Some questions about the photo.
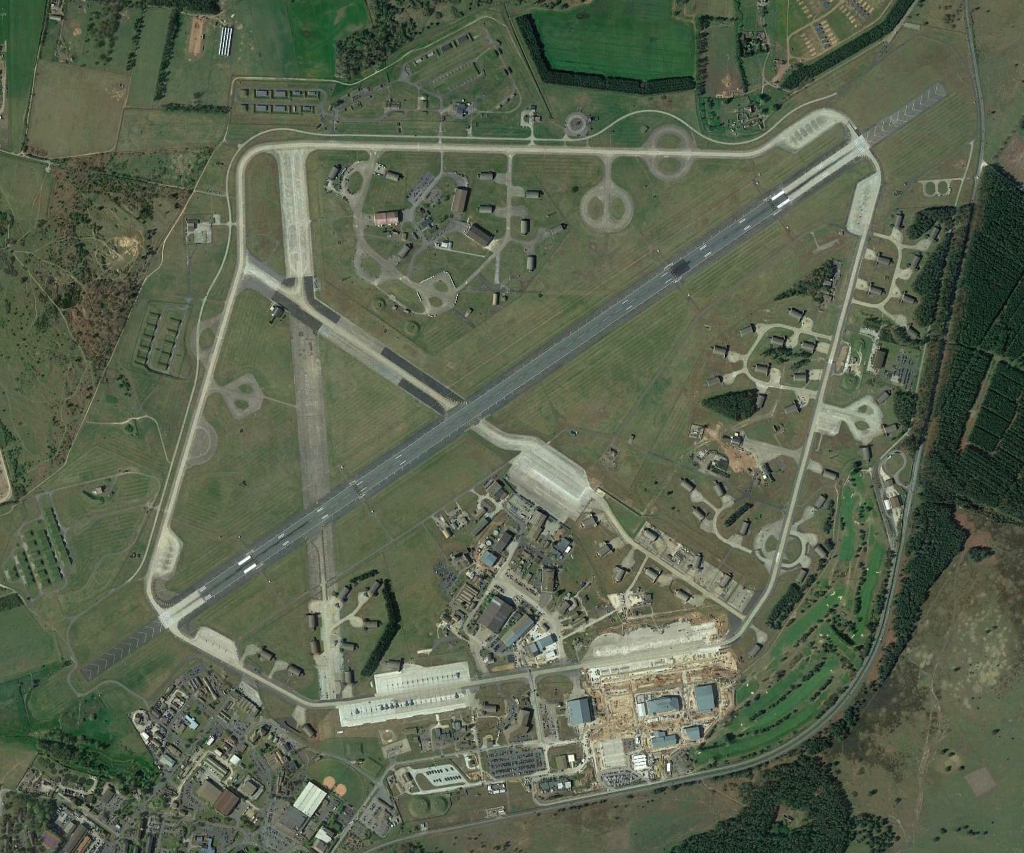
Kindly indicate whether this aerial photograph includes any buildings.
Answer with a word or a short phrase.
Yes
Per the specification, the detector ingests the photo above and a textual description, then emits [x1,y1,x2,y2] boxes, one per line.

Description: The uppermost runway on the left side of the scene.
[270,149,314,287]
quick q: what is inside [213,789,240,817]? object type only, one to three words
hangar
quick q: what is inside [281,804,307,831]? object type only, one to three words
building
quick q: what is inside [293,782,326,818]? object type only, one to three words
building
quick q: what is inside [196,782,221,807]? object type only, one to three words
hangar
